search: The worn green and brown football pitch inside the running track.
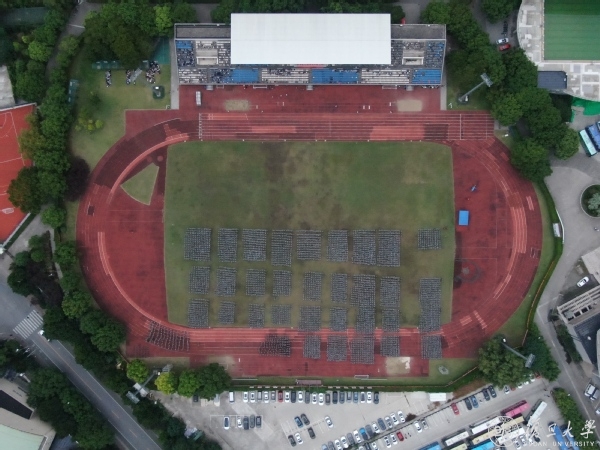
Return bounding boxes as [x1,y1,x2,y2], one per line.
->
[165,141,455,328]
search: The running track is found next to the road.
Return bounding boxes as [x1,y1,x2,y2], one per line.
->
[76,86,542,377]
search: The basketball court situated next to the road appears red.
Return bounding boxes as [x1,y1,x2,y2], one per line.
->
[0,107,39,243]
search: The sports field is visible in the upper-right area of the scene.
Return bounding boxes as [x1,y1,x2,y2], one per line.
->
[540,0,600,63]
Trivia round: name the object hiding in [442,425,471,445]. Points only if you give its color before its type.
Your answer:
white vehicle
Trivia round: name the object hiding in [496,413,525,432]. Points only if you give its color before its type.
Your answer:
white vehicle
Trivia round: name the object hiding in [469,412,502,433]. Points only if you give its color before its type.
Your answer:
white bus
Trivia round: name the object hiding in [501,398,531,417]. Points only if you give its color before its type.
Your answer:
pink vehicle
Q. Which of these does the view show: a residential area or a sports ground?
sports ground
